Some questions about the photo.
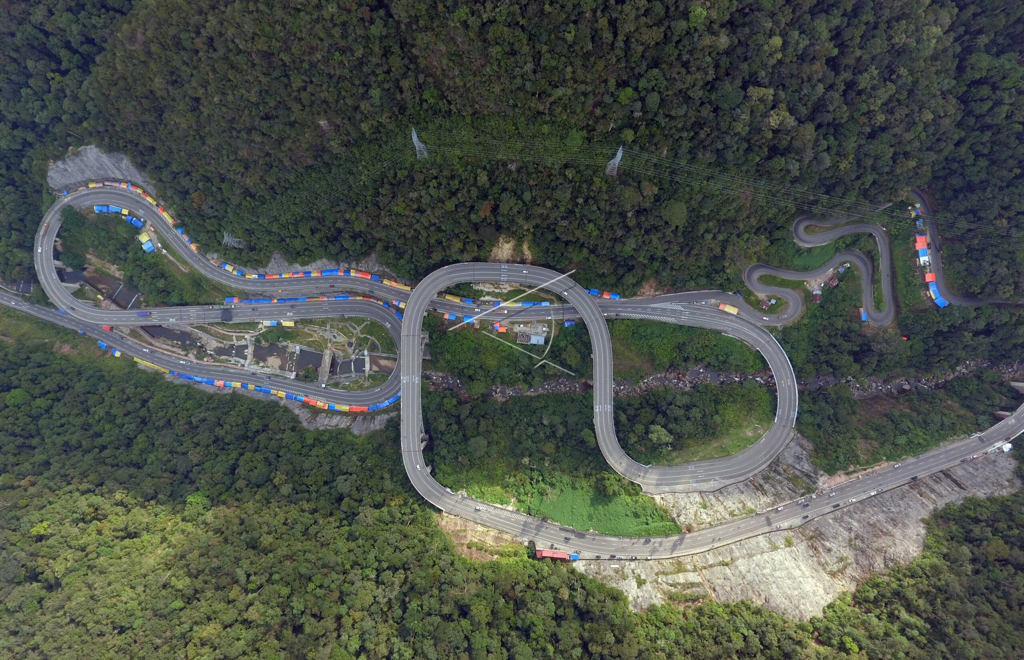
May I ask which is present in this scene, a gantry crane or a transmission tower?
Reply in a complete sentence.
This aerial view contains a transmission tower.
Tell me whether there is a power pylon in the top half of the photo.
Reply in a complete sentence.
Yes, a power pylon appears in the top half of the photo.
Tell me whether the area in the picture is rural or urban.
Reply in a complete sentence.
From above, the setting appears rural.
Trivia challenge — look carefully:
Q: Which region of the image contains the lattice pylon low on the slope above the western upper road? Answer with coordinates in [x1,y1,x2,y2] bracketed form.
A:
[222,231,246,252]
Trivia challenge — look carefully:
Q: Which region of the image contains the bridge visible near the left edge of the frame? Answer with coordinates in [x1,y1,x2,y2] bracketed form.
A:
[33,194,227,330]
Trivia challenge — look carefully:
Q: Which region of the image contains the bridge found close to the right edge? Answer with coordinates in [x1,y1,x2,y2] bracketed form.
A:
[978,402,1024,450]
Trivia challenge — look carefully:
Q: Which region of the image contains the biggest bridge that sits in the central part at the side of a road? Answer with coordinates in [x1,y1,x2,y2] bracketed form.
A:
[401,262,644,512]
